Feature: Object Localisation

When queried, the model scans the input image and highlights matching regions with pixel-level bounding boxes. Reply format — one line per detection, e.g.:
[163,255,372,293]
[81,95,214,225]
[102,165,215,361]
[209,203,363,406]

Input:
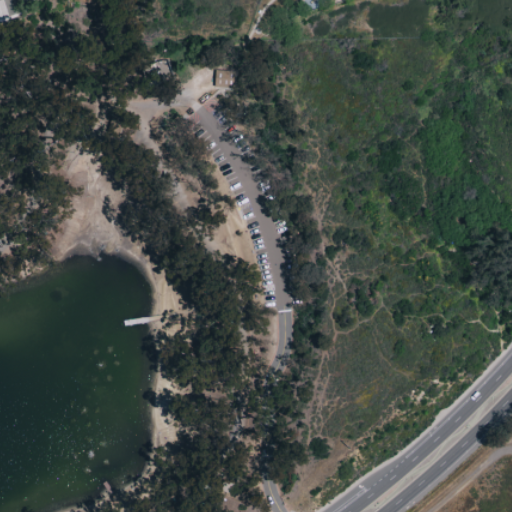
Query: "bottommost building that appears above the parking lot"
[216,69,236,87]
